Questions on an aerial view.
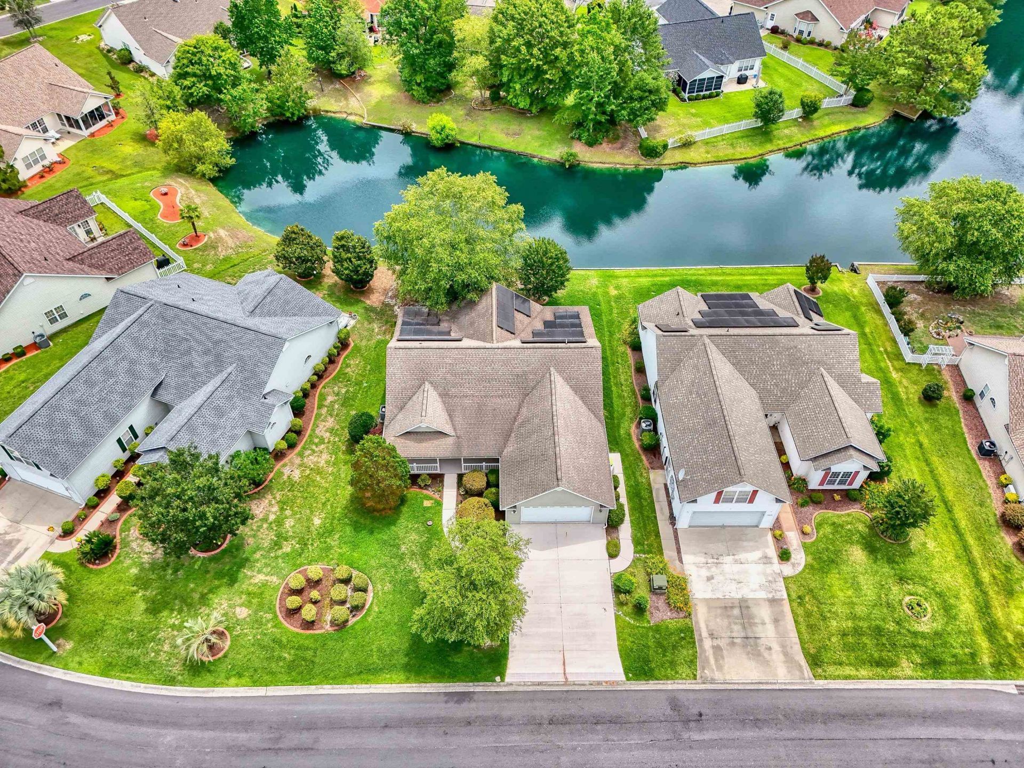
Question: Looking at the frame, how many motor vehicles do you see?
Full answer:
Not a single motor vehicle can be seen.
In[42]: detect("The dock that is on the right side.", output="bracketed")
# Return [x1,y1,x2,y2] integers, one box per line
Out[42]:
[892,103,924,123]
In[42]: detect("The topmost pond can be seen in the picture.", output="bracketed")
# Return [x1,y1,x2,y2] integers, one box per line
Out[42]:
[214,0,1024,271]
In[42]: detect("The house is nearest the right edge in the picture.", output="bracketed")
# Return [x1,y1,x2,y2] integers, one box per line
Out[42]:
[958,337,1024,501]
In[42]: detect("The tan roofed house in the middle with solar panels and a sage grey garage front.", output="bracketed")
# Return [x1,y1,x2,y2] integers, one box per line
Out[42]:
[382,282,617,529]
